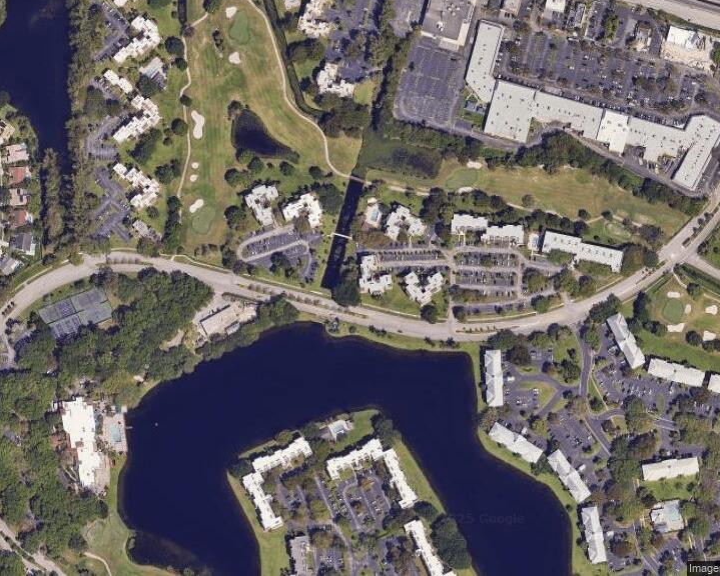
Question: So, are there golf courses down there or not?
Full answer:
Yes, the frame does contain a golf course.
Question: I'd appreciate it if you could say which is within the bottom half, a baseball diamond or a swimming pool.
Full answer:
What appears within the bottom half is a swimming pool.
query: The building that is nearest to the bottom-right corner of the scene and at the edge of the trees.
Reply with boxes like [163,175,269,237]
[651,502,676,533]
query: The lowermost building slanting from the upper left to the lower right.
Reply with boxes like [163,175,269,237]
[404,519,449,576]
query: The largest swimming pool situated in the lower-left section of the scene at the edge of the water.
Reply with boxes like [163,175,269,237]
[106,416,125,448]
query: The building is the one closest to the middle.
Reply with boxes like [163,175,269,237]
[359,255,391,291]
